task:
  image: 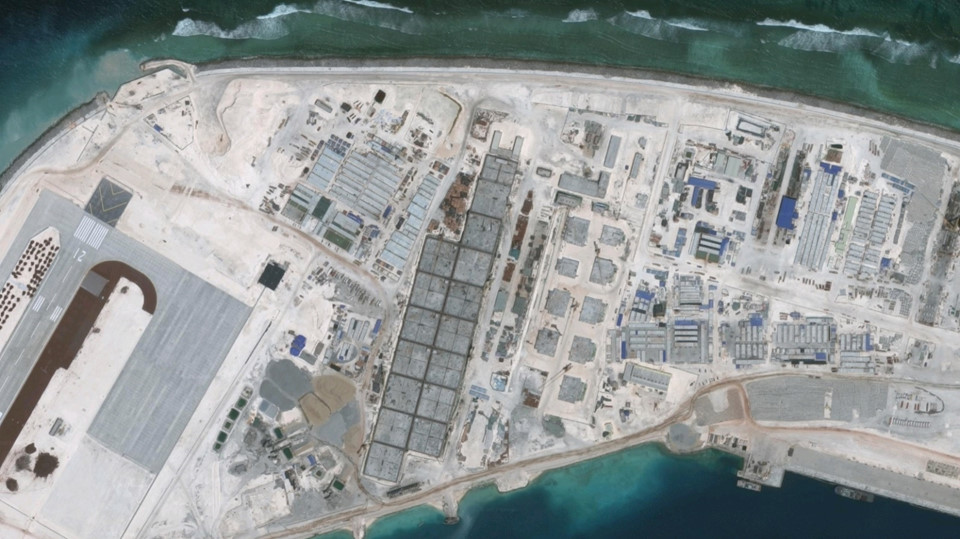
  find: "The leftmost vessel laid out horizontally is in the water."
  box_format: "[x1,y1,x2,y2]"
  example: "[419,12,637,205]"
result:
[736,479,761,491]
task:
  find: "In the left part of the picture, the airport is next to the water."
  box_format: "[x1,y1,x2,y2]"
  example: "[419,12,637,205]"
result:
[0,176,271,539]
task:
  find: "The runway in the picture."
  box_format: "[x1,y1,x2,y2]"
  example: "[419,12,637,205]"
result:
[0,211,114,421]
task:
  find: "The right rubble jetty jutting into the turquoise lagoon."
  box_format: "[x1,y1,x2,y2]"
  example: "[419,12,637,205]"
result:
[443,494,460,526]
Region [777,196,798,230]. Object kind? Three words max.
building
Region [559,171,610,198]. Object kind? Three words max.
building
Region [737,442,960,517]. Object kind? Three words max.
harbor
